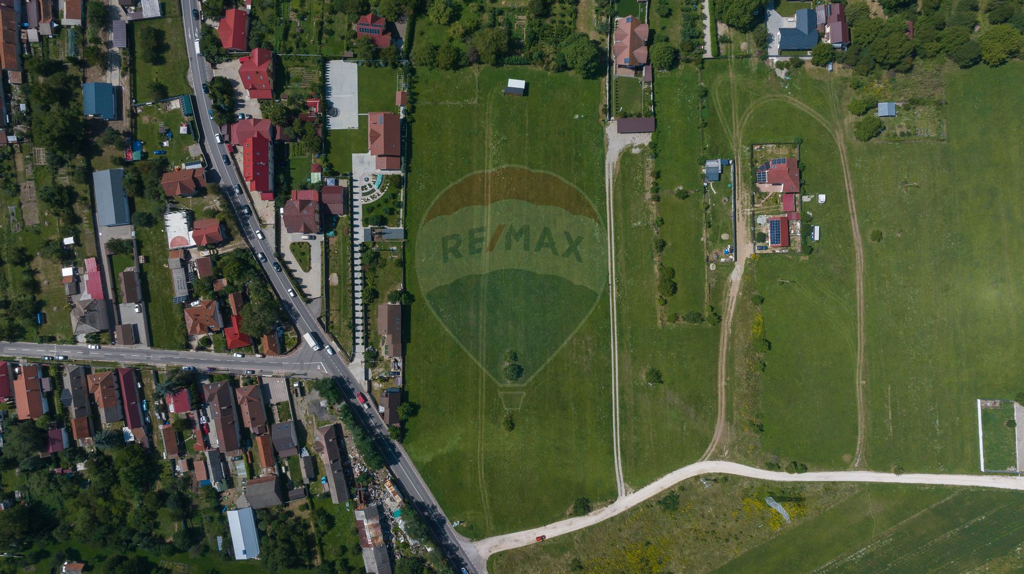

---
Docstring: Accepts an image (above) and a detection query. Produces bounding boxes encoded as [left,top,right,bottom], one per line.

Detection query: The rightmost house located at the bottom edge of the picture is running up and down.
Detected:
[355,504,392,574]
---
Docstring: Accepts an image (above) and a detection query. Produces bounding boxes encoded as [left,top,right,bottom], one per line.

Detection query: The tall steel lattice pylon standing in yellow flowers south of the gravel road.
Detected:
[764,496,794,522]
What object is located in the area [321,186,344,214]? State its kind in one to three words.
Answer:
shed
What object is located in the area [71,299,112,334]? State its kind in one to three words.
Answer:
house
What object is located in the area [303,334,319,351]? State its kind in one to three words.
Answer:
vehicle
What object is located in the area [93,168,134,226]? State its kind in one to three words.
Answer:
building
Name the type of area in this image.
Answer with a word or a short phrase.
residential area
